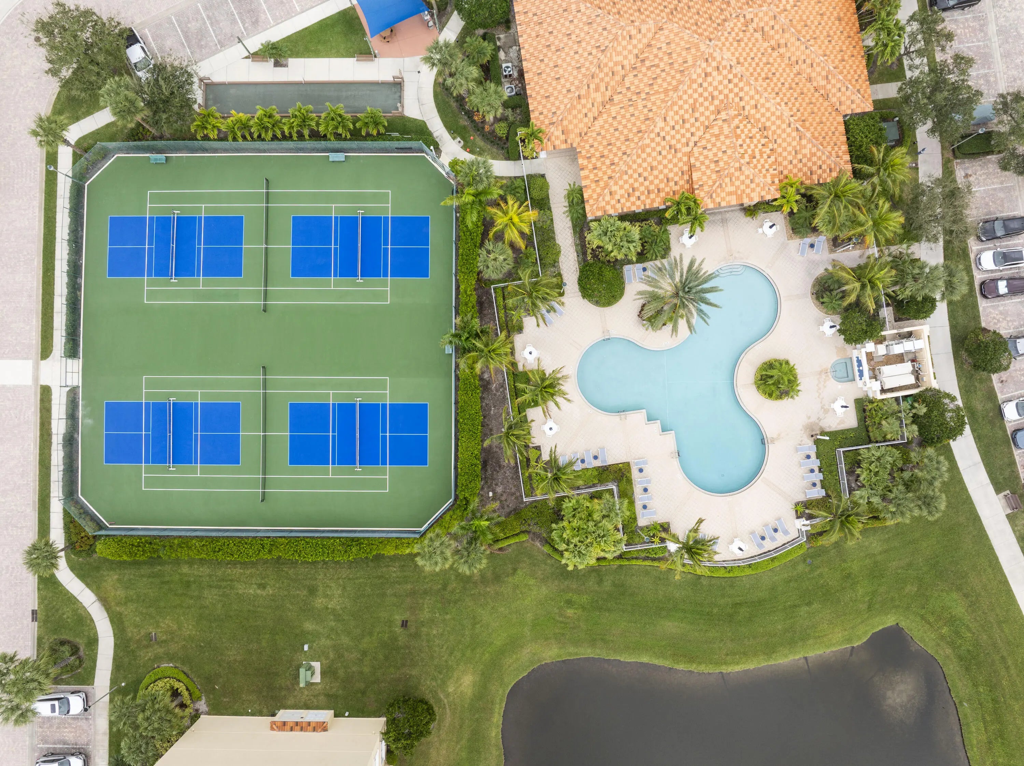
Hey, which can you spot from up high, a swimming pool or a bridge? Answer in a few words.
swimming pool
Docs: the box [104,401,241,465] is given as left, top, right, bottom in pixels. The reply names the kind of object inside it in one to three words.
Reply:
sports court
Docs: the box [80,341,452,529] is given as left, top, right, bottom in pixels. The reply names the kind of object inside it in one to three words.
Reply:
tennis court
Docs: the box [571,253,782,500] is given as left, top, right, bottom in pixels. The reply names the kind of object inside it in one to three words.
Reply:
swimming pool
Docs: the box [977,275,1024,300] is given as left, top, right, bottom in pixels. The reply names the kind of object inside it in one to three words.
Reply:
car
